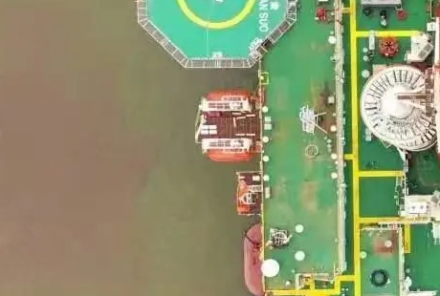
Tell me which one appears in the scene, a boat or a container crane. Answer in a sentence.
The one in the frame is a boat.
